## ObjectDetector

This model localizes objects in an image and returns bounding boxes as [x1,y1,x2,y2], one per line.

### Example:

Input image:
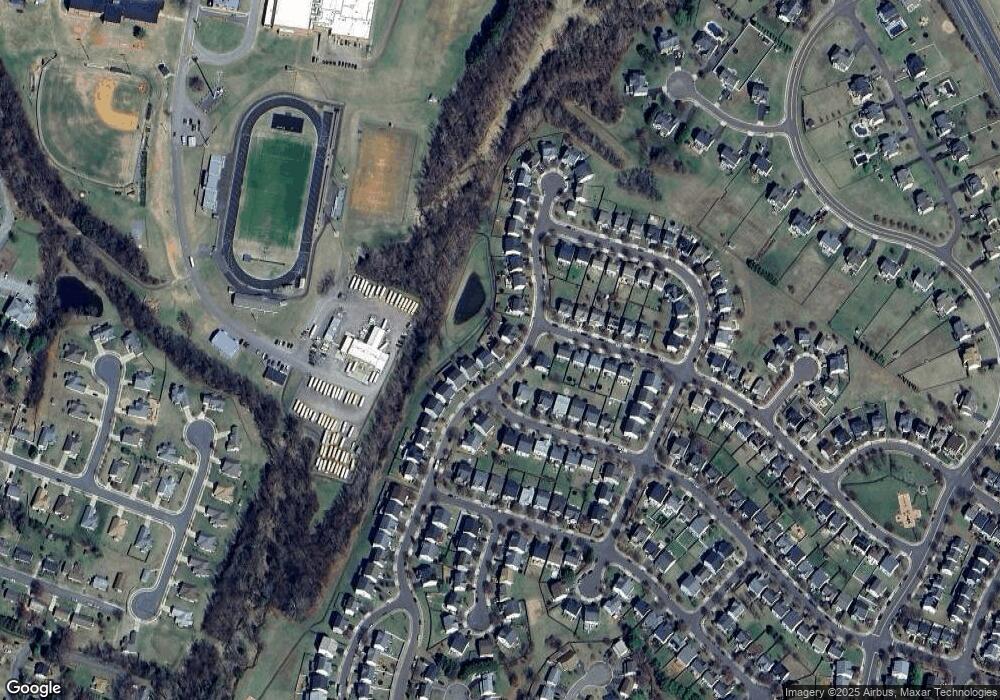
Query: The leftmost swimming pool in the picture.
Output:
[707,21,721,37]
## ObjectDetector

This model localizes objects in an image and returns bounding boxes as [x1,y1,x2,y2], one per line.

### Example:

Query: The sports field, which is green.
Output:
[238,135,314,248]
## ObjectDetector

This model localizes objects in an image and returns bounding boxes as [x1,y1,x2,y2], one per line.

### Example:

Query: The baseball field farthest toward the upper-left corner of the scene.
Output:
[37,62,150,188]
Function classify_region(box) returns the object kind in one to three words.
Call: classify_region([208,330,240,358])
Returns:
shed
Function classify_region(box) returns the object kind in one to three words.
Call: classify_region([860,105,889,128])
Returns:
house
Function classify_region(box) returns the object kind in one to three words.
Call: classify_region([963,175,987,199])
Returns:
house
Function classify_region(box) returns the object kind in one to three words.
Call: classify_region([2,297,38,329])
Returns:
building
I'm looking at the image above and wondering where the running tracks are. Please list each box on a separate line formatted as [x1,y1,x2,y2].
[218,90,333,296]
